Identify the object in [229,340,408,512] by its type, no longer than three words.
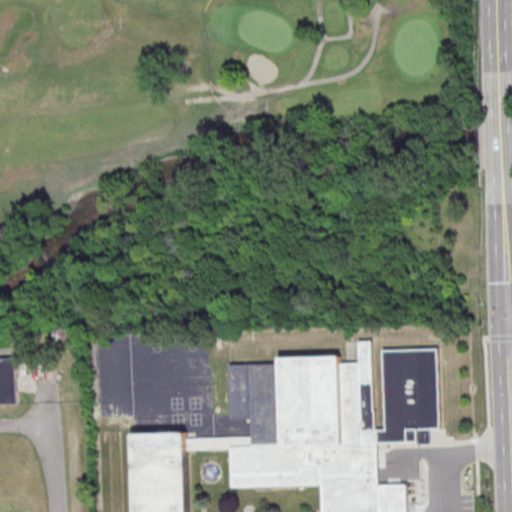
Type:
building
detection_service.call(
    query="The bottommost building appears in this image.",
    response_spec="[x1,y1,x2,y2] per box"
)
[126,432,189,512]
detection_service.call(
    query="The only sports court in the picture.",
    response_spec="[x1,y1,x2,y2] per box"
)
[100,336,250,438]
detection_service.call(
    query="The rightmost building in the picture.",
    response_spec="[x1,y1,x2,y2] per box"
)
[371,348,440,442]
